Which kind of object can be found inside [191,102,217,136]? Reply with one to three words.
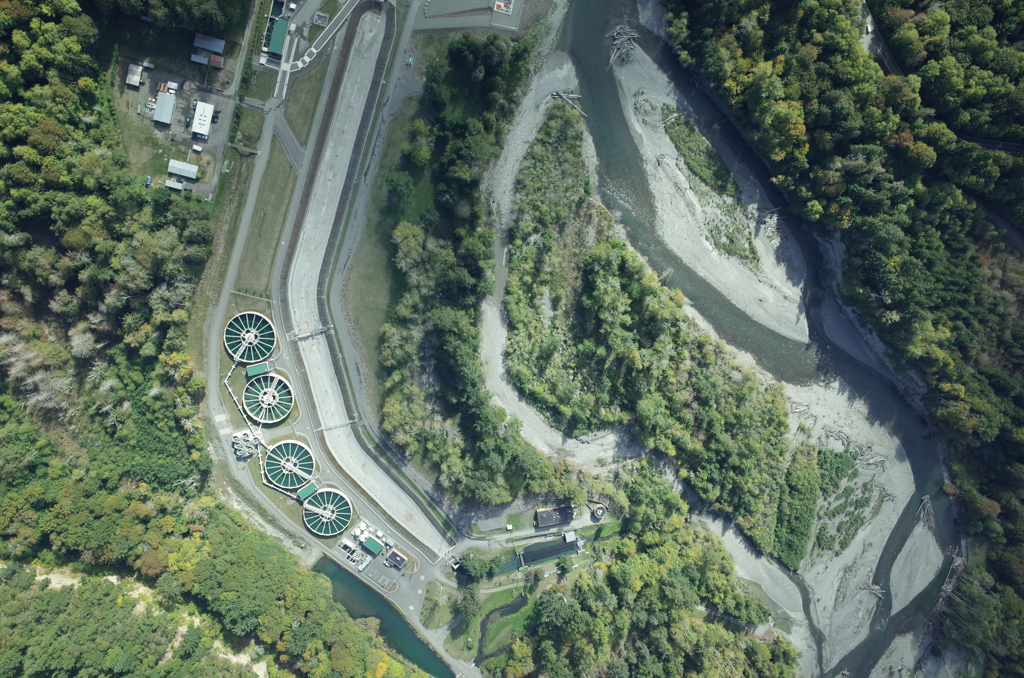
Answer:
building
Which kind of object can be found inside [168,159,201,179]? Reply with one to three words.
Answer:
house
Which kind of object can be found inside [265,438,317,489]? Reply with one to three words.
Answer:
storage tank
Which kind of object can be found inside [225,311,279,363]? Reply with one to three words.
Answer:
storage tank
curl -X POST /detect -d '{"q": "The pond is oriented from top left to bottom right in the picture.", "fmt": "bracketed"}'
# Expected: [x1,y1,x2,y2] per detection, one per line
[318,558,453,678]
